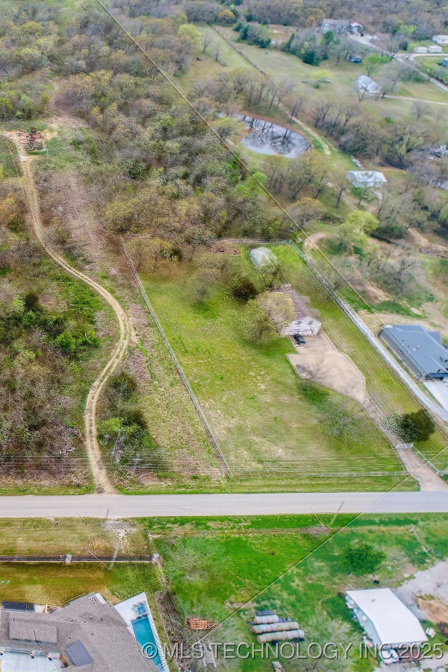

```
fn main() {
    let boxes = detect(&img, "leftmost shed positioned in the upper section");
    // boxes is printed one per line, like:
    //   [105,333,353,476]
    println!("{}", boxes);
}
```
[250,244,278,267]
